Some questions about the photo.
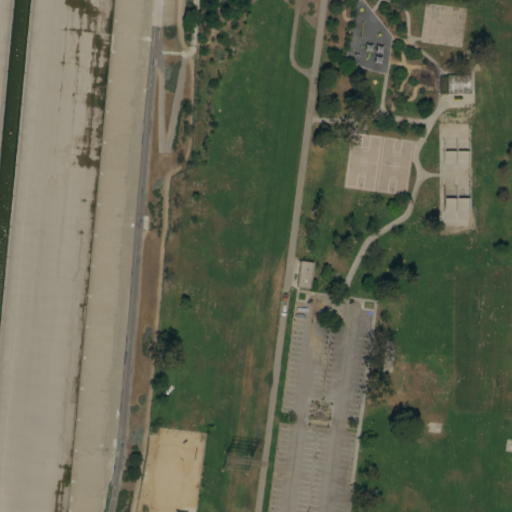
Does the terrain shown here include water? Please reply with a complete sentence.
Yes, the picture does contain water.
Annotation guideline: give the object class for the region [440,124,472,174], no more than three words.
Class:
sports court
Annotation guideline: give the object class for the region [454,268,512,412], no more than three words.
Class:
sports field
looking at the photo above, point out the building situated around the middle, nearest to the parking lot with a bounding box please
[299,261,316,290]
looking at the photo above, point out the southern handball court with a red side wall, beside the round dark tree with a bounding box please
[440,174,472,226]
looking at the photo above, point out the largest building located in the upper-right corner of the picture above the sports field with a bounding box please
[450,76,474,94]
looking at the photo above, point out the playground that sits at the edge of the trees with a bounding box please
[352,0,392,76]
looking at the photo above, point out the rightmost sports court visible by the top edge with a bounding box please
[422,4,466,46]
